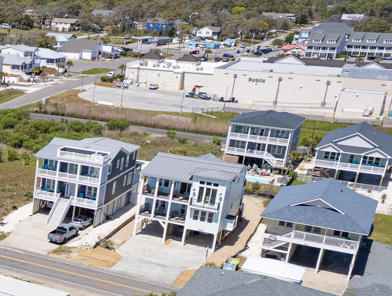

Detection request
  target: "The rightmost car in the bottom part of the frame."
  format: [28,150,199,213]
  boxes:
[67,211,94,227]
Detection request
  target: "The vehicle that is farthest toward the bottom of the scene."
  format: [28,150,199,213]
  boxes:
[44,222,83,241]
